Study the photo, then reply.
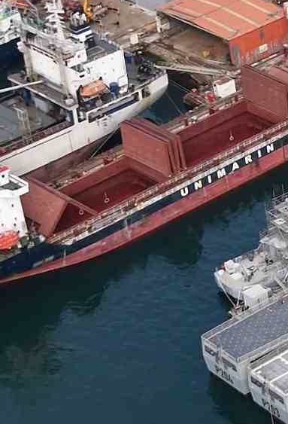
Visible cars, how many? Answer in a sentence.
There are no cars in the image.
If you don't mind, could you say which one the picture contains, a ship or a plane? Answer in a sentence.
The image shows a ship.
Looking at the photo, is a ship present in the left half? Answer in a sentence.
Yes, a ship shows up in the left half.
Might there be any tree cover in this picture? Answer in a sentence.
No, the picture contains no tree cover.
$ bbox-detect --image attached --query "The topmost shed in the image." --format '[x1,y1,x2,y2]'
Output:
[163,0,288,71]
